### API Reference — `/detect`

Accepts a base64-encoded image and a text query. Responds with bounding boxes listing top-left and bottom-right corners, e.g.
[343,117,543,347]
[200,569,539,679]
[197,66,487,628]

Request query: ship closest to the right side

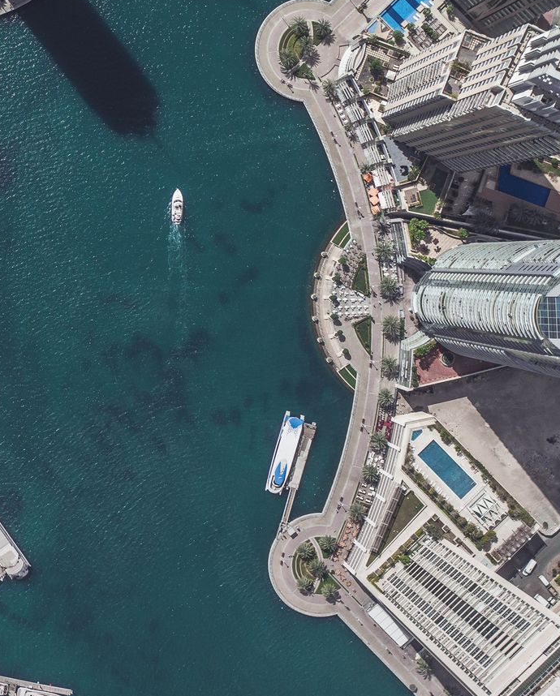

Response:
[267,410,305,496]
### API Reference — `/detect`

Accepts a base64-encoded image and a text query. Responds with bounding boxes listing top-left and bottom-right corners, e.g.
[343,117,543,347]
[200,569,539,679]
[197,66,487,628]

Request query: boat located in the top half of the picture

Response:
[171,188,183,225]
